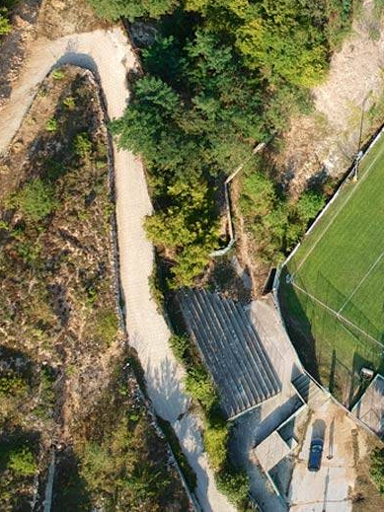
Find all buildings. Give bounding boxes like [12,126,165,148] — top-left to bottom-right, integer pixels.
[254,429,291,472]
[351,374,384,437]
